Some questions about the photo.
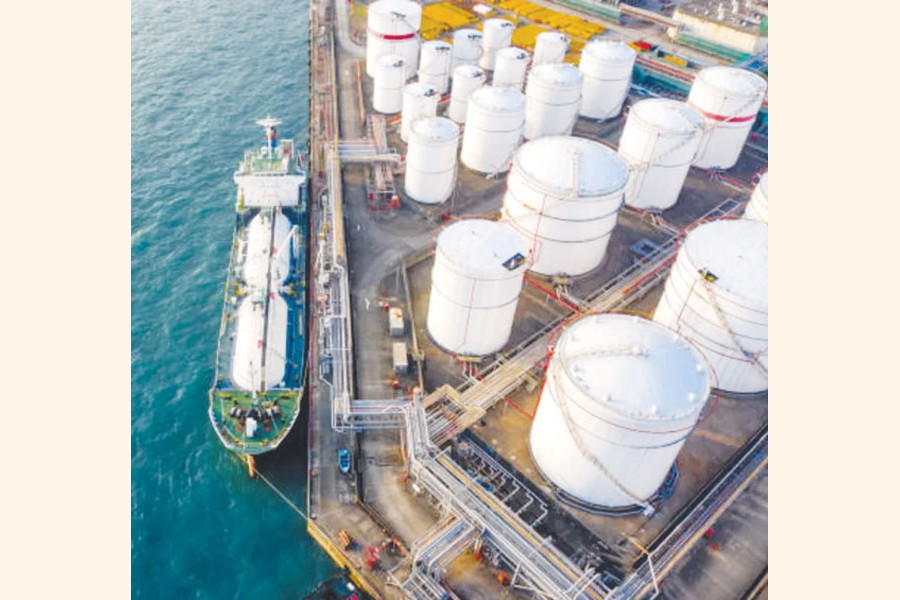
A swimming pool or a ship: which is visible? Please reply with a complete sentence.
The image shows a ship.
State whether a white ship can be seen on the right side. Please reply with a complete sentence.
No, there is no white ship on the right side.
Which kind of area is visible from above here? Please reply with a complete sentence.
It's an industrial area.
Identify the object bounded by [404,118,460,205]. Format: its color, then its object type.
white storage tank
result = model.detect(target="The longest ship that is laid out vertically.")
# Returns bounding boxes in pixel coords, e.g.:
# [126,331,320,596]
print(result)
[209,111,309,478]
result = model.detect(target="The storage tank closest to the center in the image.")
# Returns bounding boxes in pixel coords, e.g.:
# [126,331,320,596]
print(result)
[427,222,531,358]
